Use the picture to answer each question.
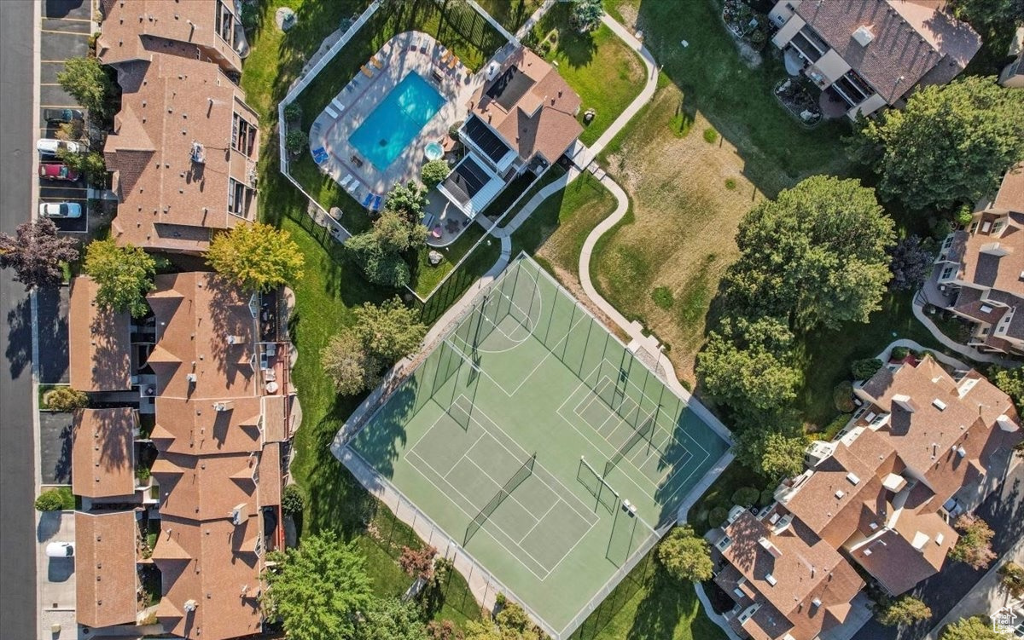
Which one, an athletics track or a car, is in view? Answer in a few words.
car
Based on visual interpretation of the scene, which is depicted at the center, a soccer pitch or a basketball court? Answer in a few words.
basketball court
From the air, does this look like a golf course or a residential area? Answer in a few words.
residential area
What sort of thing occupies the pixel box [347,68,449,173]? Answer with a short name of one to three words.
swimming pool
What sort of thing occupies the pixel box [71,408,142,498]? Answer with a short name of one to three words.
building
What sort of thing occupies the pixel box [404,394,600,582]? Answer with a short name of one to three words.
tennis court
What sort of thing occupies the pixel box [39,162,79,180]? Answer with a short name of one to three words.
car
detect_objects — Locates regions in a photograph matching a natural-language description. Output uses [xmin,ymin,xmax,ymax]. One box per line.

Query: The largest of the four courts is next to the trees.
[346,256,729,633]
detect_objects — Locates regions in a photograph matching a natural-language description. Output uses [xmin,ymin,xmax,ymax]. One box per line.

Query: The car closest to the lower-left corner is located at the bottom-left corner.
[46,541,76,560]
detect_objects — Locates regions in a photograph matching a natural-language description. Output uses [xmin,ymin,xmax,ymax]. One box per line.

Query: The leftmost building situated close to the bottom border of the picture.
[75,510,144,629]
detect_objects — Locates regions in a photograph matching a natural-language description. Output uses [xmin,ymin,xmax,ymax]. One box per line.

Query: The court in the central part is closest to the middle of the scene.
[451,261,539,352]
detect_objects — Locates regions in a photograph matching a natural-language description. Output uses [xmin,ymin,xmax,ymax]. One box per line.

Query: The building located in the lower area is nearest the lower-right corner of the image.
[843,476,959,597]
